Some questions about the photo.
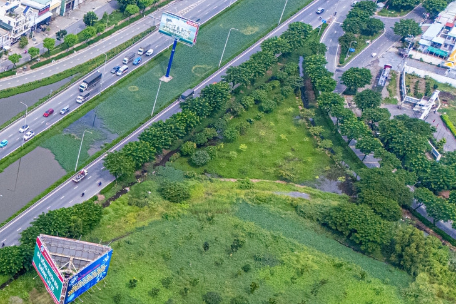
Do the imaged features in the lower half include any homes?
No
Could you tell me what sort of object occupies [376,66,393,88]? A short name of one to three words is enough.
vehicle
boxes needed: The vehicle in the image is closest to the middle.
[177,85,197,102]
